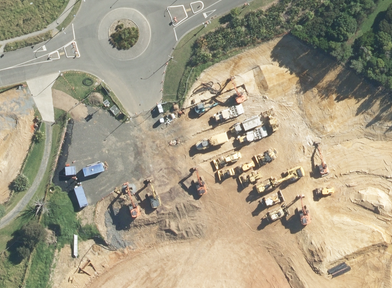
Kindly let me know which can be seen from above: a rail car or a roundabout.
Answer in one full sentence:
It is a roundabout that can be seen here.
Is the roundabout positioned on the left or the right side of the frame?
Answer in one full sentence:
The roundabout appears in the left half of the scene.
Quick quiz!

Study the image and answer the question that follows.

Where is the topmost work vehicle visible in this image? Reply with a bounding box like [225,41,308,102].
[230,76,250,106]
